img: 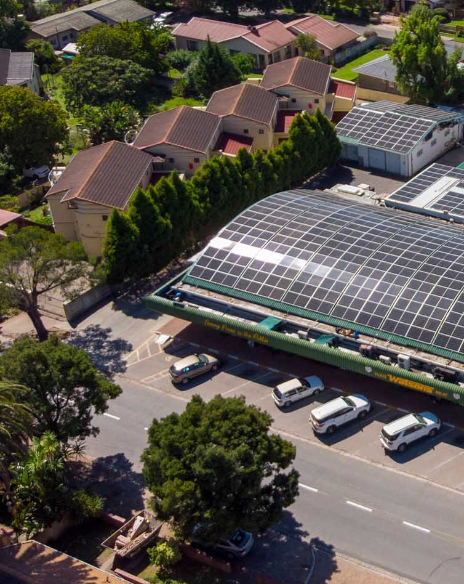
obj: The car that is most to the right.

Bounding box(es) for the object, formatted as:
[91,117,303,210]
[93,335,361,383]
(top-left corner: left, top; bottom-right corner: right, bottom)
[376,409,446,451]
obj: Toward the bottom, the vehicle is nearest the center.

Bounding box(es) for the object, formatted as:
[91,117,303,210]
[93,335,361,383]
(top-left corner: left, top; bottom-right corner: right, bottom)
[160,347,224,381]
